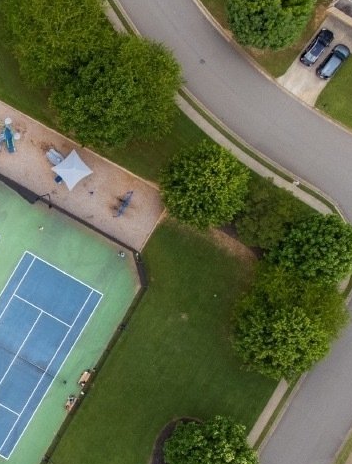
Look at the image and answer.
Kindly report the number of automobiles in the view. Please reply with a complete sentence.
In total, there are 2 automobiles in the scene.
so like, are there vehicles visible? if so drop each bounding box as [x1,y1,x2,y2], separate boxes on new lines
[315,42,349,81]
[298,29,333,67]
